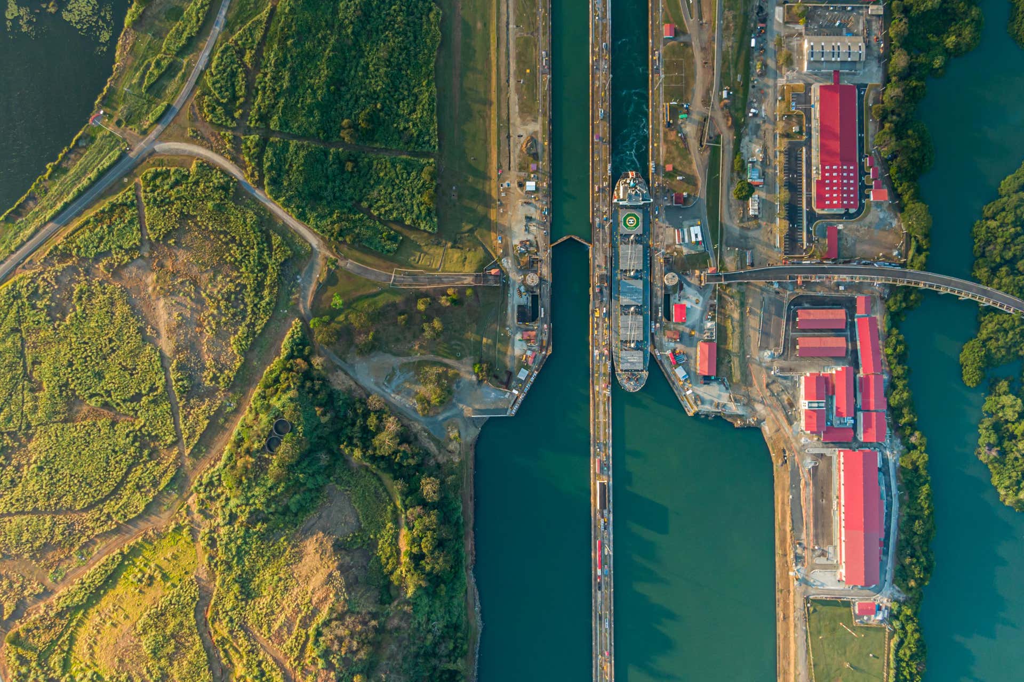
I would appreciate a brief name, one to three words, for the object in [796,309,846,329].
shed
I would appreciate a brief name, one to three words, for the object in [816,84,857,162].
building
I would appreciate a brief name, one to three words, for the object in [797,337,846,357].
shed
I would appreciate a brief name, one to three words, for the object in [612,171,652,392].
ship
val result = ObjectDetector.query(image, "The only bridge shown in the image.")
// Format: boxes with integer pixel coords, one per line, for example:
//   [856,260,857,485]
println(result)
[705,265,1024,325]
